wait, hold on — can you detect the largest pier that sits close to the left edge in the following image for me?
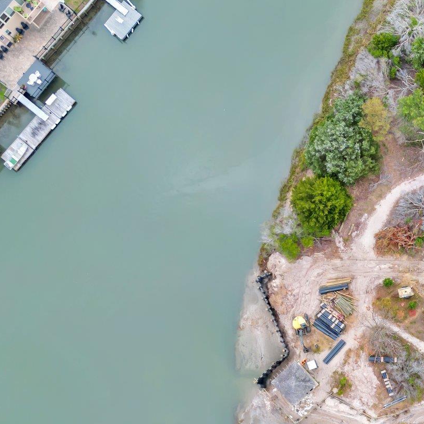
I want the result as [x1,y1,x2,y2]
[1,89,76,171]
